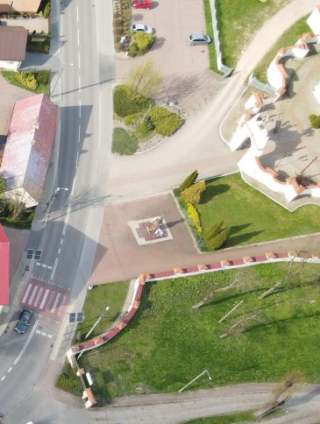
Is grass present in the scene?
Yes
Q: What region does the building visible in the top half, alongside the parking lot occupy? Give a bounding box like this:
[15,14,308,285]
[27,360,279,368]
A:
[0,93,58,208]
